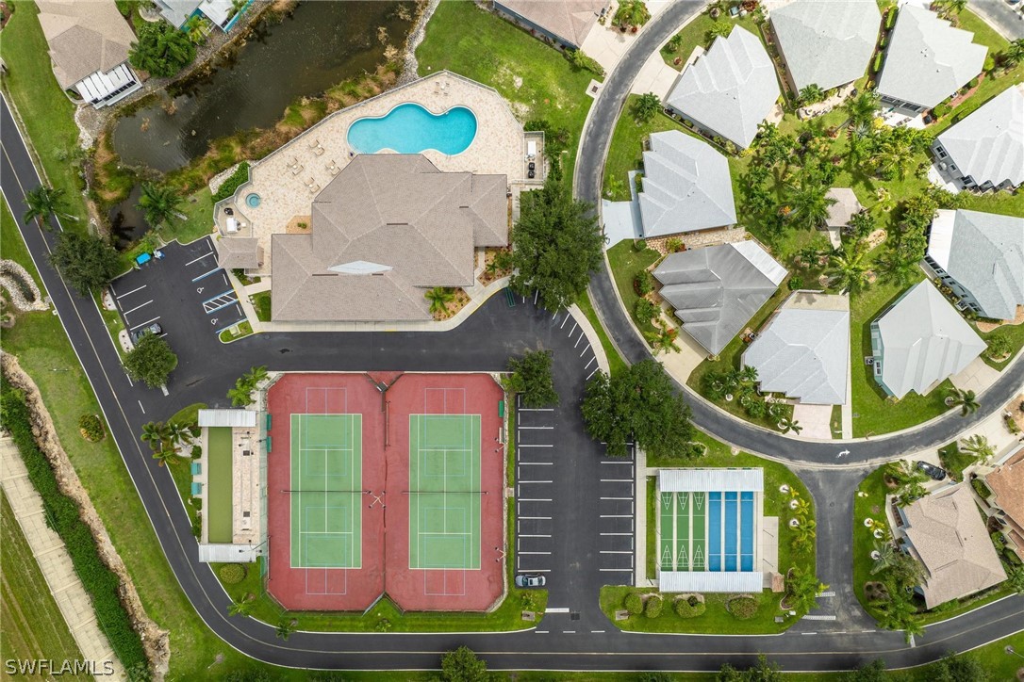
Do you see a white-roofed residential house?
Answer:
Yes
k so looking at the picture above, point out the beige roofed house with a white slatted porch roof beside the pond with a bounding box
[33,0,142,108]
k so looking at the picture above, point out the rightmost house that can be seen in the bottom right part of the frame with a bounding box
[978,443,1024,552]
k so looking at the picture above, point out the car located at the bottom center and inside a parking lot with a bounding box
[516,574,546,589]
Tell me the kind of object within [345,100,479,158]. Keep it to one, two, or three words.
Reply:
swimming pool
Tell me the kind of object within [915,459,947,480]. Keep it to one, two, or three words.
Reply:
car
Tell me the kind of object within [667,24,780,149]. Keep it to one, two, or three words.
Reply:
house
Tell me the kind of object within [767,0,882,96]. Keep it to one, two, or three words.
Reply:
house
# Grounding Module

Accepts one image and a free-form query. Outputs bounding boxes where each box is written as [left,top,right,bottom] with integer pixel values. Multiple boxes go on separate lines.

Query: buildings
[652,240,788,356]
[667,24,780,149]
[272,154,507,321]
[638,130,737,238]
[871,278,988,400]
[767,0,882,96]
[978,443,1024,552]
[495,0,607,49]
[742,293,850,405]
[918,209,1024,320]
[872,3,989,111]
[932,81,1024,186]
[898,482,1008,610]
[819,188,861,228]
[153,0,256,38]
[33,0,142,108]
